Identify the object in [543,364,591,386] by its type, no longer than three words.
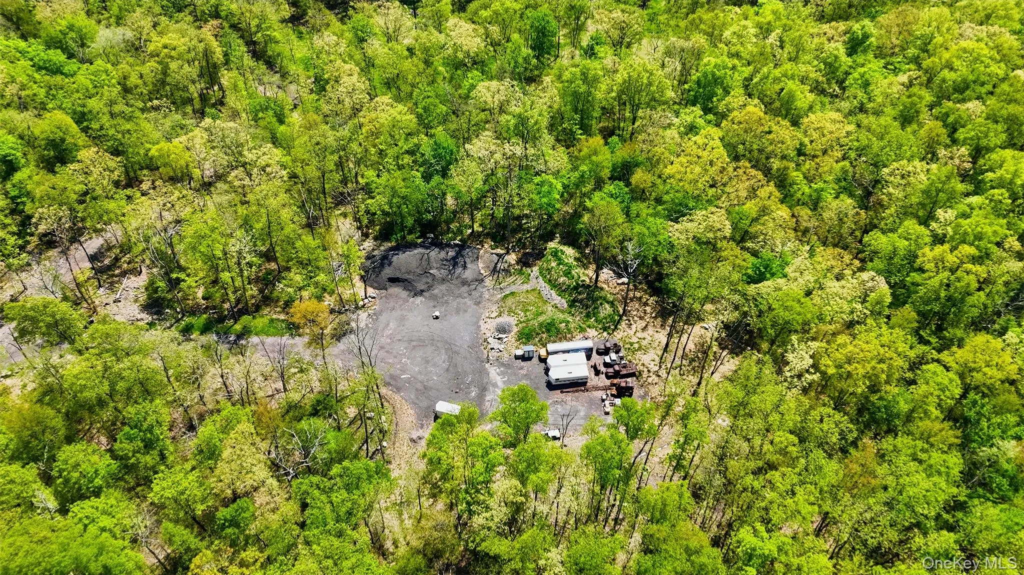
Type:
trailer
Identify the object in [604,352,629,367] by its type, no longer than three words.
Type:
vehicle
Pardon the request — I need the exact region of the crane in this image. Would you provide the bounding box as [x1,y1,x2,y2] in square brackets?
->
[559,377,636,397]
